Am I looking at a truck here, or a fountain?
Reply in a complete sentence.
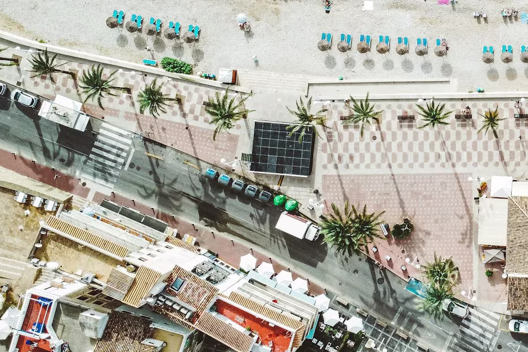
It is a truck that can be seen here.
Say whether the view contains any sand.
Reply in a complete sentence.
Yes, there is sand in the image.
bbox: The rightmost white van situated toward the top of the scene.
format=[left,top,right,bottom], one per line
[37,91,91,128]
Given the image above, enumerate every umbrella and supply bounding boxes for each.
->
[501,51,513,63]
[322,309,340,326]
[0,320,12,339]
[1,308,21,327]
[184,31,196,43]
[258,262,274,278]
[318,39,331,52]
[396,42,409,55]
[145,23,157,36]
[314,294,329,312]
[291,276,307,293]
[482,51,494,63]
[357,40,370,53]
[237,13,247,23]
[164,27,176,40]
[239,254,257,271]
[434,44,447,57]
[107,16,119,29]
[520,51,528,63]
[415,43,428,56]
[364,335,375,348]
[126,20,138,33]
[276,268,291,285]
[345,316,363,334]
[337,40,350,53]
[376,41,389,54]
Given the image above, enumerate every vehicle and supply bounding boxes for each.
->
[444,298,470,318]
[37,91,91,128]
[509,318,528,333]
[13,90,40,108]
[0,81,10,95]
[277,207,322,239]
